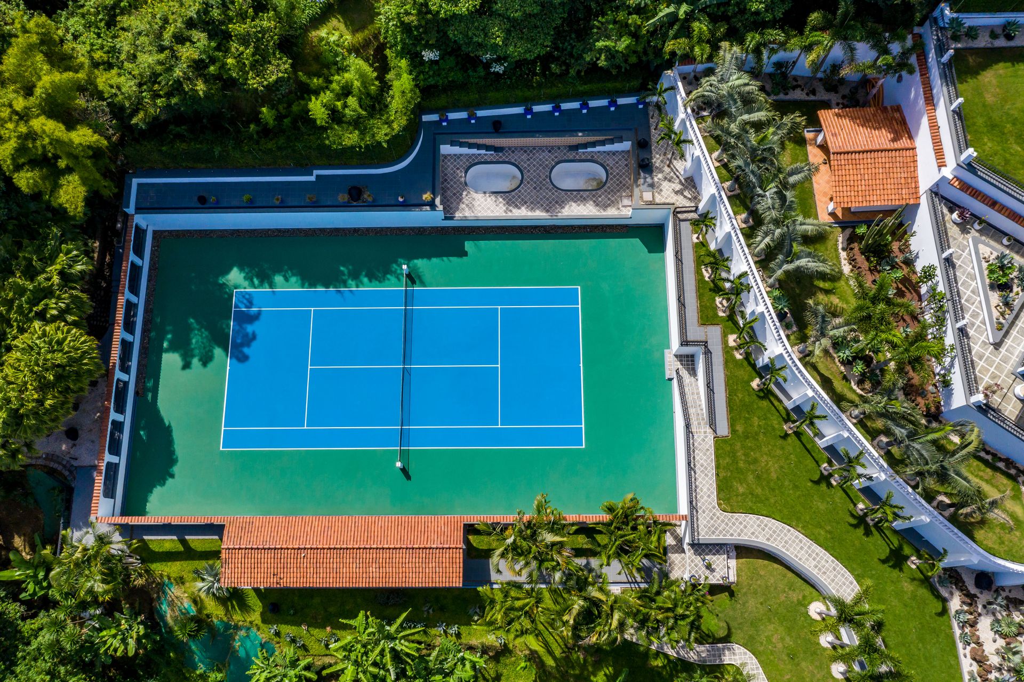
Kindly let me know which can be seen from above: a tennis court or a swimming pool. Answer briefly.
tennis court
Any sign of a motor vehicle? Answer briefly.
No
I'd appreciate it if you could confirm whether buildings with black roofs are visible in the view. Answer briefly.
No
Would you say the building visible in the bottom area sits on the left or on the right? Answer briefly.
left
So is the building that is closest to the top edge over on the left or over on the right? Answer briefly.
right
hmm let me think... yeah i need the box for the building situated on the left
[216,515,466,589]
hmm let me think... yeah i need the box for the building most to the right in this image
[803,104,923,223]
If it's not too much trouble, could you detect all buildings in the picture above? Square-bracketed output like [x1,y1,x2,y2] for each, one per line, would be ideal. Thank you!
[803,104,923,223]
[216,515,466,589]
